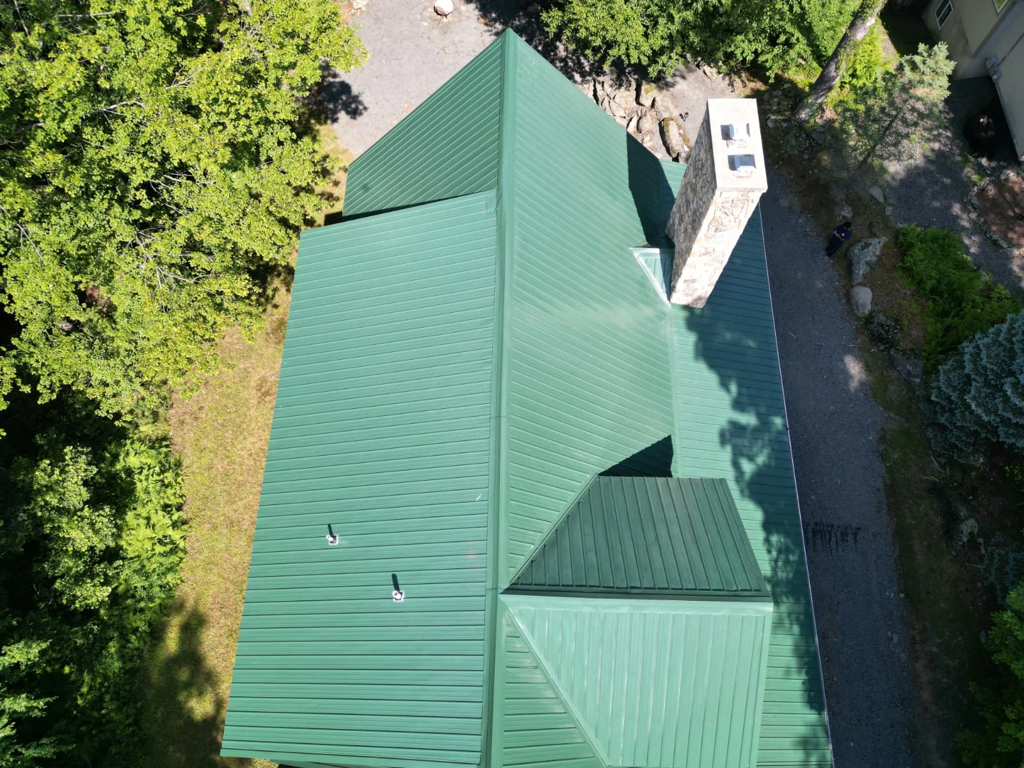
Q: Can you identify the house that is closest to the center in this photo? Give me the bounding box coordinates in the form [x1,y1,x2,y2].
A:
[222,26,835,768]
